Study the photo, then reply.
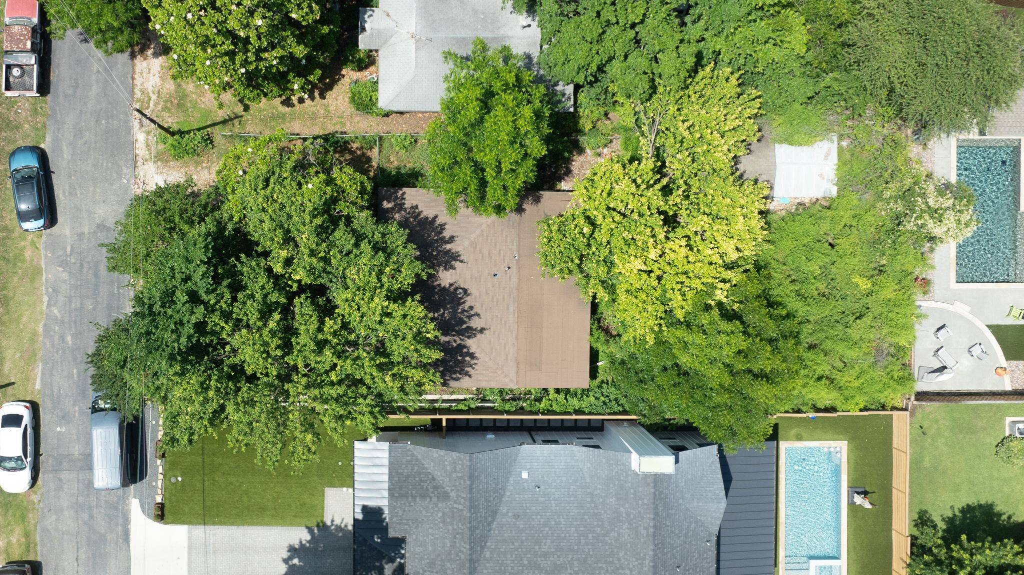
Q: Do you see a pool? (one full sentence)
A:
Yes, this view includes a pool.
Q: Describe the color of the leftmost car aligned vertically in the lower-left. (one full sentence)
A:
The leftmost car aligned vertically in the lower-left looks white in the image.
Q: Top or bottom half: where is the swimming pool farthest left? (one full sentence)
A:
You can find the swimming pool farthest left in the bottom half.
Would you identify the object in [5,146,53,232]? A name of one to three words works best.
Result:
car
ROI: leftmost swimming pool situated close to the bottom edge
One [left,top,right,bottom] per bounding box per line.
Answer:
[780,442,848,575]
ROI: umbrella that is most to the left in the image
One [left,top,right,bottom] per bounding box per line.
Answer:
[847,487,877,508]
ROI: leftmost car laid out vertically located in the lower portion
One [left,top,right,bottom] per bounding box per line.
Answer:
[0,401,39,491]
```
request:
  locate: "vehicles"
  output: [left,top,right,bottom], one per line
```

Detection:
[89,394,138,496]
[5,146,53,232]
[0,401,39,491]
[0,562,34,575]
[0,0,47,100]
